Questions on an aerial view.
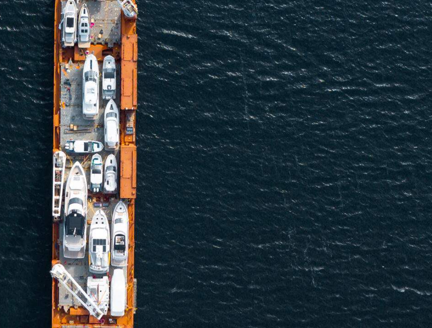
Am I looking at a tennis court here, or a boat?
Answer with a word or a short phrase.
boat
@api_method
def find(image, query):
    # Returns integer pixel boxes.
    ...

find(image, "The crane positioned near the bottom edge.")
[52,264,104,319]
